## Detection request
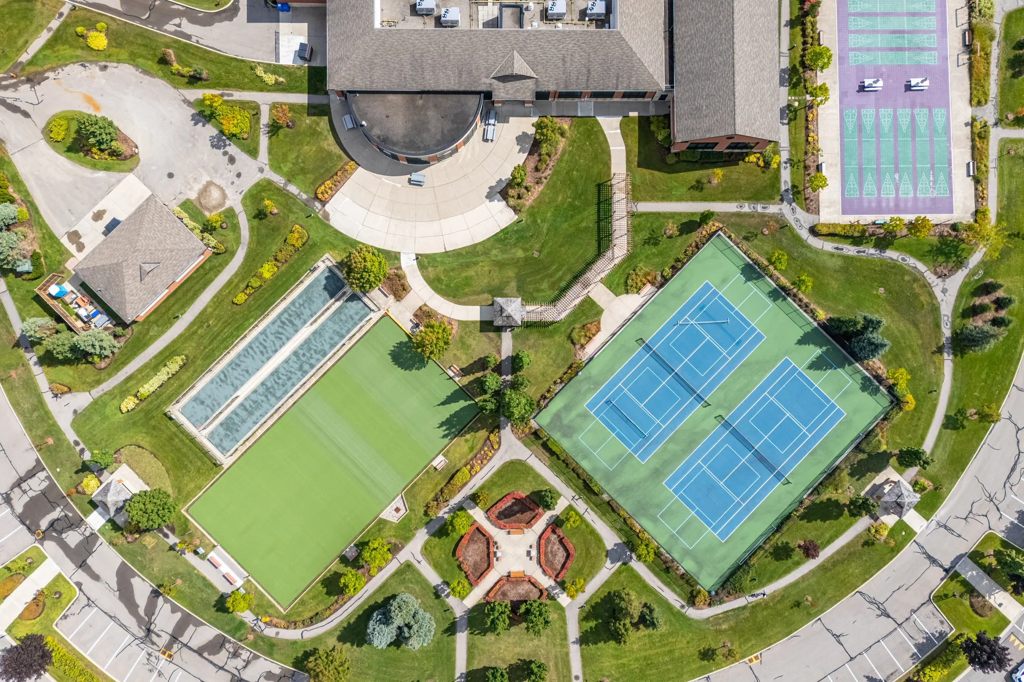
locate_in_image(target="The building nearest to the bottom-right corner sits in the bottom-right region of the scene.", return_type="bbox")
[875,479,921,519]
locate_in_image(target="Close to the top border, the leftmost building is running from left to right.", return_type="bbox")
[273,0,674,161]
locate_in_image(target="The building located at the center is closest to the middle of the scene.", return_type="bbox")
[493,297,522,326]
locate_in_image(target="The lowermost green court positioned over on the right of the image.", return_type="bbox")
[532,228,899,594]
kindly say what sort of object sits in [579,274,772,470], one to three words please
tennis court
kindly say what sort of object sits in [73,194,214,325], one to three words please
building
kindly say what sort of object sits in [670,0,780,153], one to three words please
building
